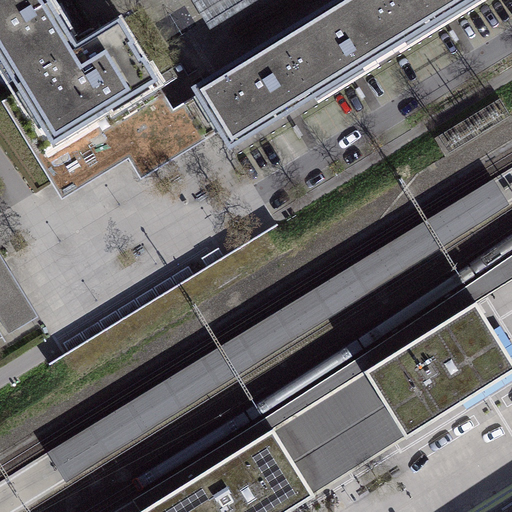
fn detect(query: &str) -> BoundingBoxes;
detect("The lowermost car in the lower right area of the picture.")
[408,455,430,472]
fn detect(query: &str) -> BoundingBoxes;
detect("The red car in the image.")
[336,94,352,116]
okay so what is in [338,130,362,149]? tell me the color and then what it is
white car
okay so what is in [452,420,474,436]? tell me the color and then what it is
white car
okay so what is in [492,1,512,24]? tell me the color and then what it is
black car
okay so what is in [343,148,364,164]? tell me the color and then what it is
black car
